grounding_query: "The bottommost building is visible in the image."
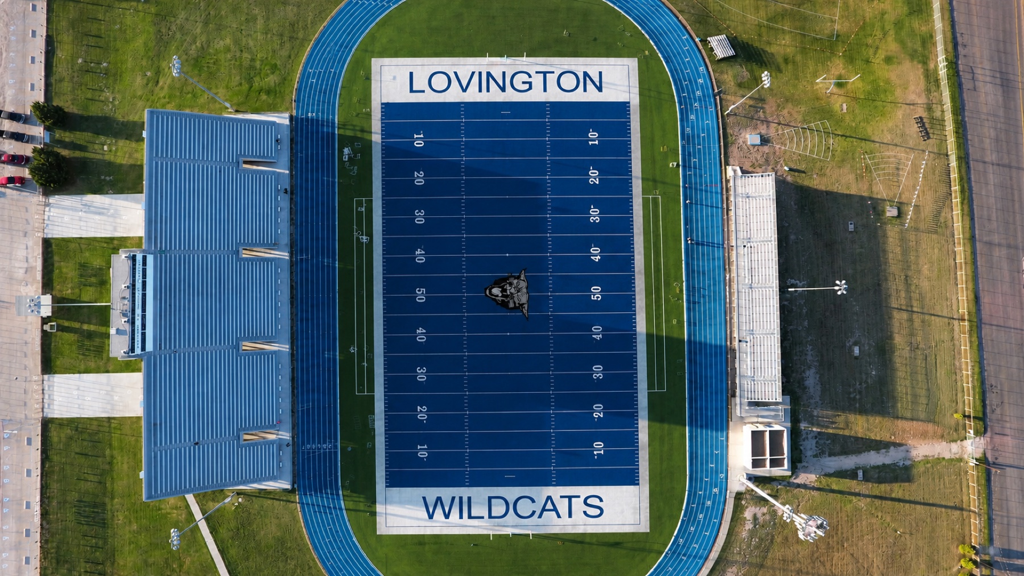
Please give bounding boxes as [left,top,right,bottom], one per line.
[743,423,788,470]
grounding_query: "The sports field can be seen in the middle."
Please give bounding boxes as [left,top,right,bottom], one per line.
[381,102,637,488]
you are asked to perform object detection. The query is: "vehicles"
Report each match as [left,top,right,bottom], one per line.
[0,130,27,142]
[0,174,24,185]
[0,111,24,123]
[3,153,27,164]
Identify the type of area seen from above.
sports ground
